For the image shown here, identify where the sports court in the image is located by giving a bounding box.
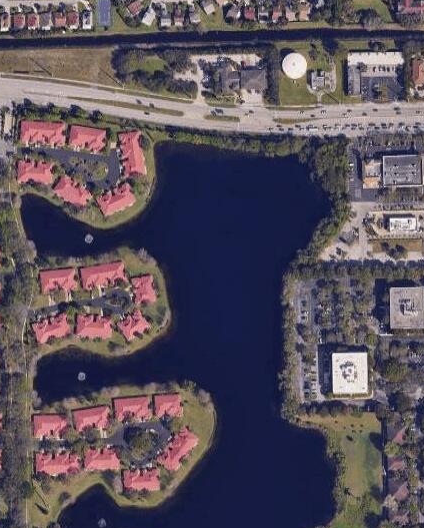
[94,0,112,29]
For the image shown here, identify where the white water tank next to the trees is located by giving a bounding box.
[282,54,307,83]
